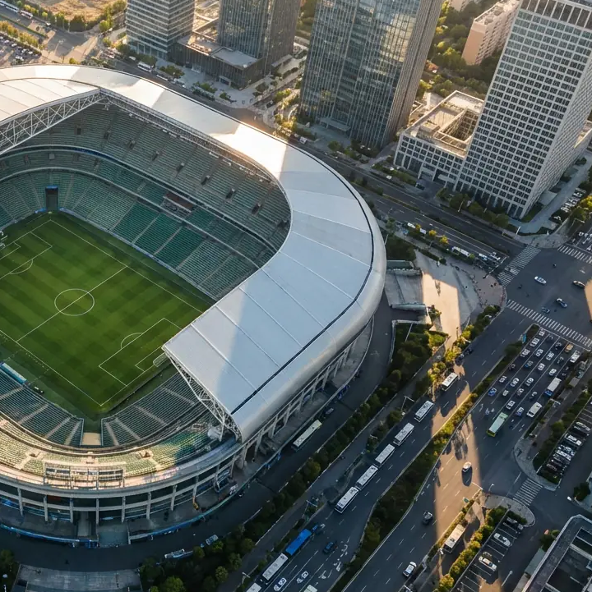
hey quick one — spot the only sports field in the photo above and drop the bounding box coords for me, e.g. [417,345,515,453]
[0,216,207,415]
